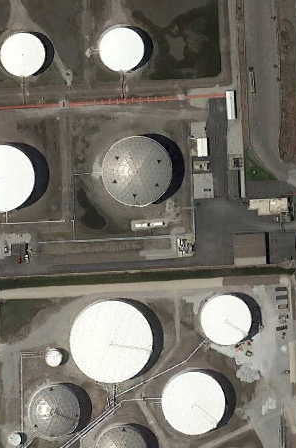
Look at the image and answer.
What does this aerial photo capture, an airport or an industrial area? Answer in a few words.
industrial area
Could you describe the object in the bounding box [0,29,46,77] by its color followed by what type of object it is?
white storage tank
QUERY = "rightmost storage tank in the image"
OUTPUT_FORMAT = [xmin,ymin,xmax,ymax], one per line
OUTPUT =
[199,292,252,347]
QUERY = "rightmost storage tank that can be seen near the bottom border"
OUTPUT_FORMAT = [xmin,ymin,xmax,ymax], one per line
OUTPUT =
[159,367,226,436]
